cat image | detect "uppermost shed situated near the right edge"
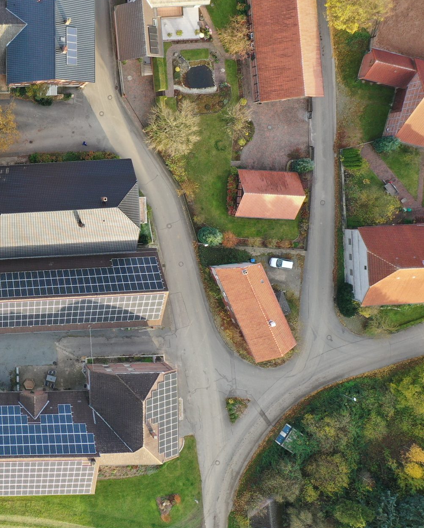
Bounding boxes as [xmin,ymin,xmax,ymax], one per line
[355,48,420,89]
